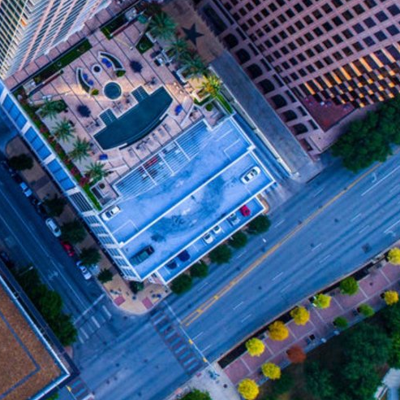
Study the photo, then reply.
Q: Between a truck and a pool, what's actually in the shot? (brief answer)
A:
pool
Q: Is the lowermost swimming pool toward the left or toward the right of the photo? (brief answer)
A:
left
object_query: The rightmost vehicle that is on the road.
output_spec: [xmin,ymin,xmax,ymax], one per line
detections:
[75,260,93,280]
